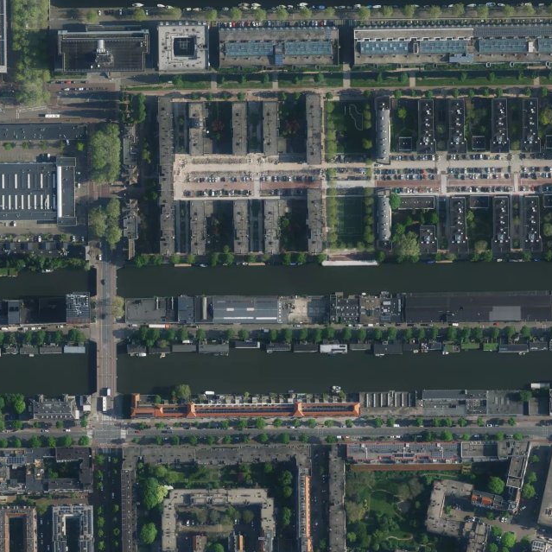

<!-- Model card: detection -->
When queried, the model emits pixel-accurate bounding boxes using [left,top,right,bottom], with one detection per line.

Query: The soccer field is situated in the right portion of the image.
[336,197,372,246]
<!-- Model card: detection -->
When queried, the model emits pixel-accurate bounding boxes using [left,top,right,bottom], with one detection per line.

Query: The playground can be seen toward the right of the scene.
[326,100,375,154]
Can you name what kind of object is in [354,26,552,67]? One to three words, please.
building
